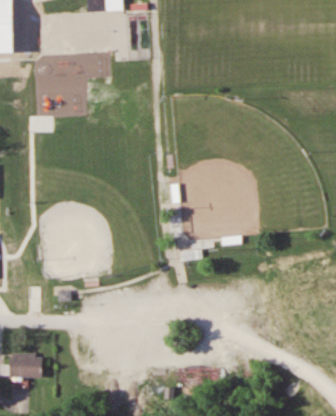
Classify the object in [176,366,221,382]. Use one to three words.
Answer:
shed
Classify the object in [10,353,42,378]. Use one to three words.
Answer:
house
